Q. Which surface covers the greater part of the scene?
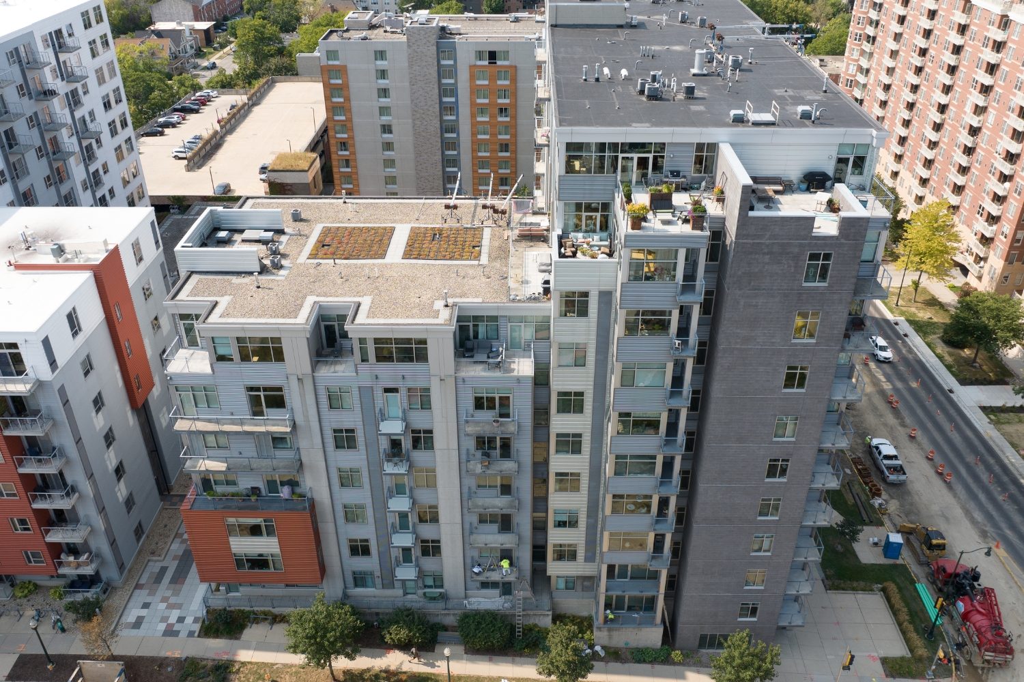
buildings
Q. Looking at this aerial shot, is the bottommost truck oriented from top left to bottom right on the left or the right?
right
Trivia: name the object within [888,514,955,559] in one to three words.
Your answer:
work vehicle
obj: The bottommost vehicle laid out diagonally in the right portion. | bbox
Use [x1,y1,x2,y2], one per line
[916,554,1024,665]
